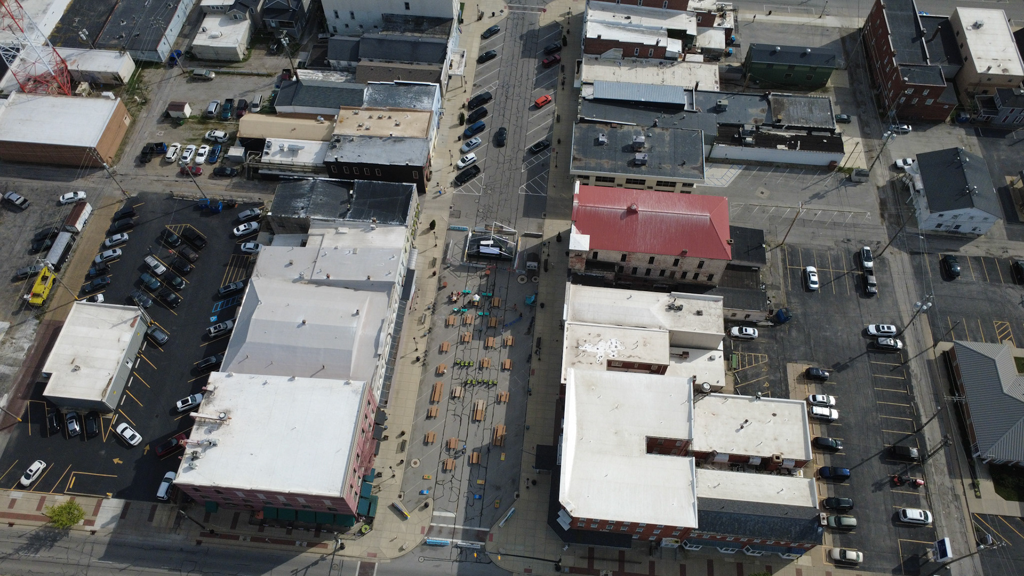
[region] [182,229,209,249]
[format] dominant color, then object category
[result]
black car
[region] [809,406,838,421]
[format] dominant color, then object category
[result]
white car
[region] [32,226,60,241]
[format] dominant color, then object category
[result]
black car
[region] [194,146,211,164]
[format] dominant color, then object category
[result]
white car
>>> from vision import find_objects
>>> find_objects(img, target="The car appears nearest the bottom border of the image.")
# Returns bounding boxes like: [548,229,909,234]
[830,548,862,565]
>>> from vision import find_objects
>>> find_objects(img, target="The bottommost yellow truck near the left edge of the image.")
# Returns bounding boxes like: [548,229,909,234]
[25,268,56,307]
